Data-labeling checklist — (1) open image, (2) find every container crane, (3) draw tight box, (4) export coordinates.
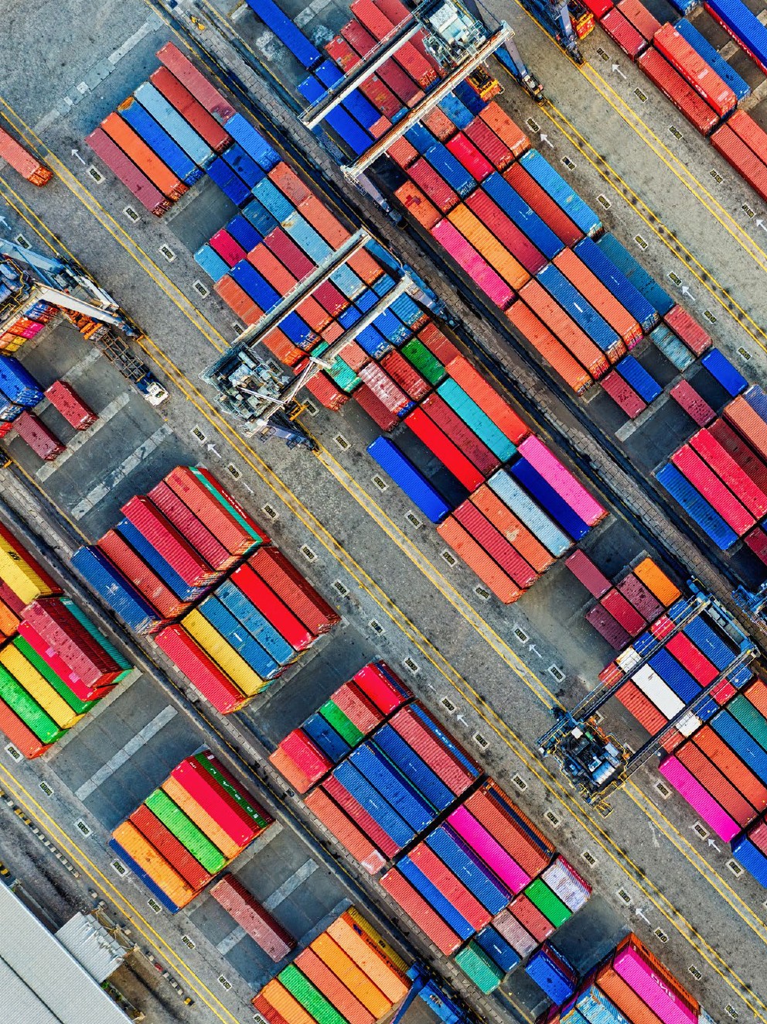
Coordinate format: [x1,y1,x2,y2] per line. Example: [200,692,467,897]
[195,220,459,460]
[0,232,143,349]
[381,967,480,1024]
[522,0,588,65]
[525,579,766,834]
[292,0,547,232]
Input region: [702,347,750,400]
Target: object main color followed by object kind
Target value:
blue shipping container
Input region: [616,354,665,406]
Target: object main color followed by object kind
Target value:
blue shipping container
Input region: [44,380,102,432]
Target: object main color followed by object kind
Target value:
red shipping container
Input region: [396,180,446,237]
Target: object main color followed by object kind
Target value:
red shipping container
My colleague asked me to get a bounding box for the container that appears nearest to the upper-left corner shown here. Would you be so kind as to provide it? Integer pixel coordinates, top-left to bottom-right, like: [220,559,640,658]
[0,114,52,184]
